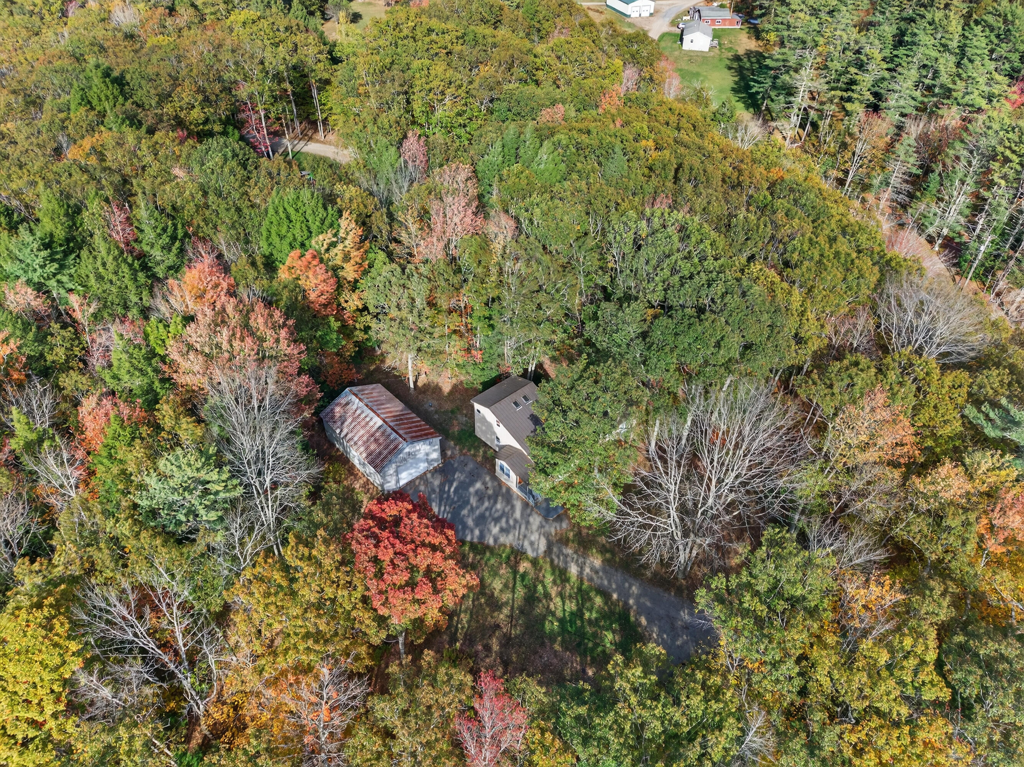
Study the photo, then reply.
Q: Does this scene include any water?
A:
No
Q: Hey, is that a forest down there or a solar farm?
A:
forest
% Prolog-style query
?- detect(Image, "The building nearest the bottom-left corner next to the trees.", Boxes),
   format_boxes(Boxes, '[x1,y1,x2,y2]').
[320,384,441,492]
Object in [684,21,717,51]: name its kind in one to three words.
house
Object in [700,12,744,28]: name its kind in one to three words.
barn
